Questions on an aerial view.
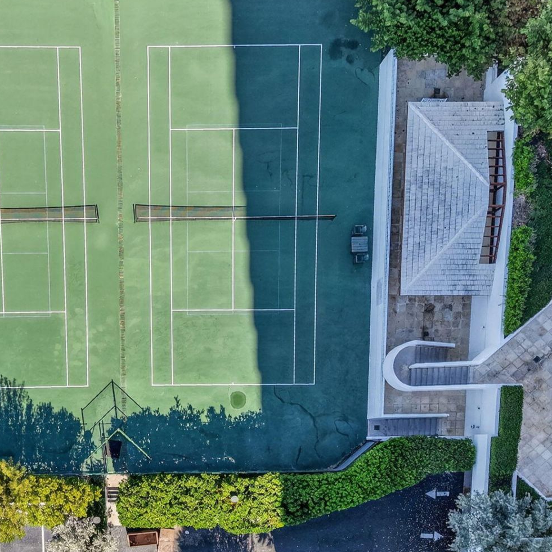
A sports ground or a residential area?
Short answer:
sports ground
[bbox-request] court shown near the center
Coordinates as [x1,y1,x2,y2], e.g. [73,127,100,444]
[119,0,382,475]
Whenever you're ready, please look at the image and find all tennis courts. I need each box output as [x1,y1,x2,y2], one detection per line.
[0,0,127,480]
[119,0,382,475]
